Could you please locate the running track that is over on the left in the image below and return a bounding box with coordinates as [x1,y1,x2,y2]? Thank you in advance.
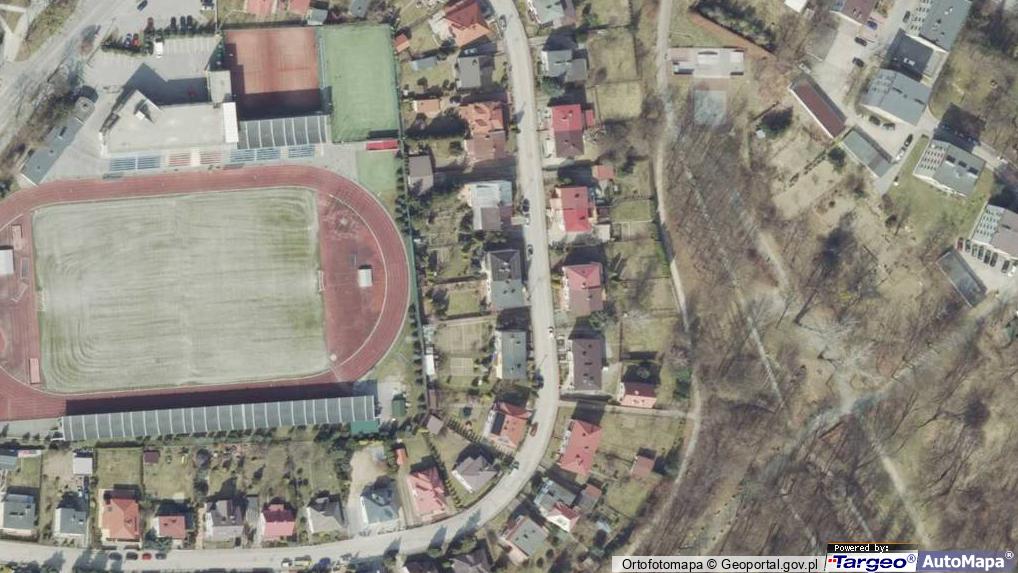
[0,166,412,424]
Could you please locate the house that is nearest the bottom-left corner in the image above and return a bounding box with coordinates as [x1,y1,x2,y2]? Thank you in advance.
[0,491,37,529]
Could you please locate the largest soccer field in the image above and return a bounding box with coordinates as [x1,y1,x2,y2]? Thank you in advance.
[33,188,329,391]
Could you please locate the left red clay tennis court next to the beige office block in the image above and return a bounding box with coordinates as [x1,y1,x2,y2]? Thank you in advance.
[225,27,277,120]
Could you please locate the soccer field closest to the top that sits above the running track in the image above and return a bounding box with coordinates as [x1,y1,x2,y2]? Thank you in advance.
[318,24,399,141]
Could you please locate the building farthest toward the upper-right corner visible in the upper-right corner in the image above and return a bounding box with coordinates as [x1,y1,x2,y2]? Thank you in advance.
[905,0,972,53]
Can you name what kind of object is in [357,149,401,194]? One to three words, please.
sports field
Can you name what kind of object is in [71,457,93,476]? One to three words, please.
building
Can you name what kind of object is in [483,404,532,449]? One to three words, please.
house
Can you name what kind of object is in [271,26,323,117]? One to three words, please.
tennis court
